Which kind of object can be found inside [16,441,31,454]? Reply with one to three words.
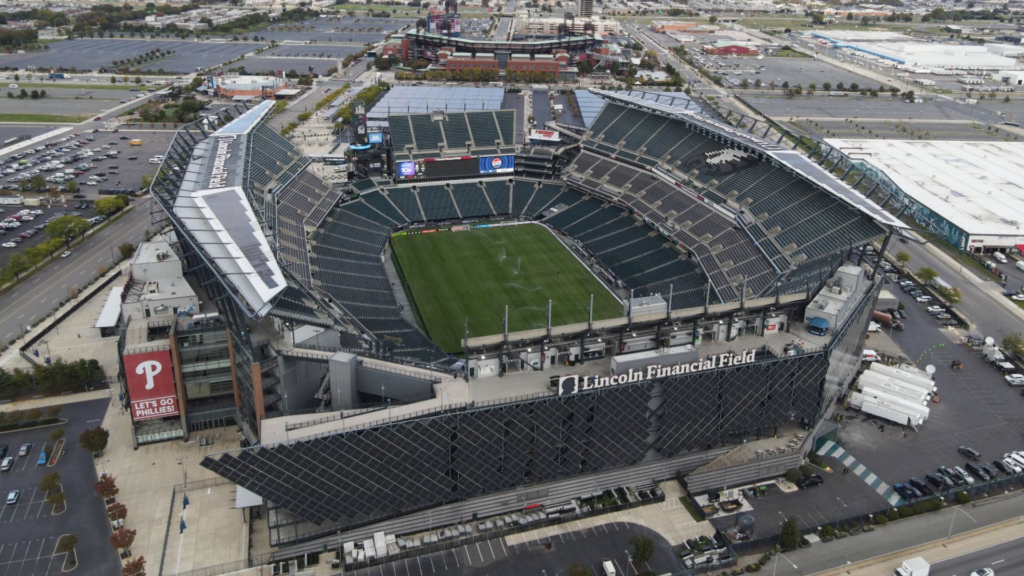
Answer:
vehicle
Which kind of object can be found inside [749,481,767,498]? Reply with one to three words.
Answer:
work vehicle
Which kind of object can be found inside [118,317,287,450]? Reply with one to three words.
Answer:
building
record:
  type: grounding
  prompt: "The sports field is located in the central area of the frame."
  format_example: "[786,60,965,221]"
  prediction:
[392,223,627,344]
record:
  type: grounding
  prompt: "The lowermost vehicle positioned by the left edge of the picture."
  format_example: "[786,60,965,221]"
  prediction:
[4,488,20,503]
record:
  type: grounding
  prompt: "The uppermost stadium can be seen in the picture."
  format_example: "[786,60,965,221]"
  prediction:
[382,0,636,82]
